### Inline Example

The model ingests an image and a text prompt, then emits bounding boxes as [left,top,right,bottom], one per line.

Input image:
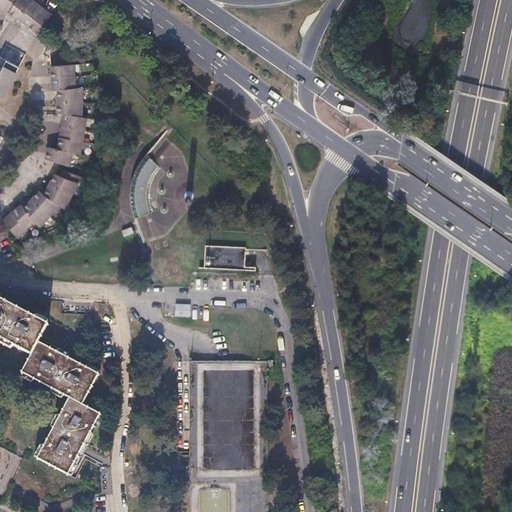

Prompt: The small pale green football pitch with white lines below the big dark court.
[191,483,236,512]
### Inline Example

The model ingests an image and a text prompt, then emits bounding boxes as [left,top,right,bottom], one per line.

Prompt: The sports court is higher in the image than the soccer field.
[197,362,260,477]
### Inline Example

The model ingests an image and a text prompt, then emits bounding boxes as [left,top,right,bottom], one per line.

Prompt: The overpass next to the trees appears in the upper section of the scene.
[396,128,512,276]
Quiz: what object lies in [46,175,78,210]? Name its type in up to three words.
house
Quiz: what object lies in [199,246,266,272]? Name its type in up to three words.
building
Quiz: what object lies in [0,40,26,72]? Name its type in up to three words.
swimming pool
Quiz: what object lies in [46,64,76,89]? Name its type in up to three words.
house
